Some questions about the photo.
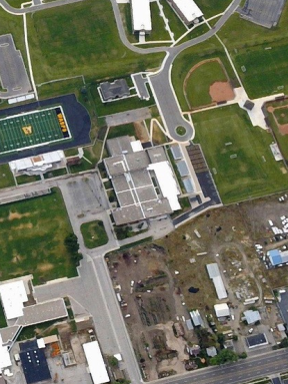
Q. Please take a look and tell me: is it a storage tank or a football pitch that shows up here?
football pitch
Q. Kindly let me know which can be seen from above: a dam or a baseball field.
baseball field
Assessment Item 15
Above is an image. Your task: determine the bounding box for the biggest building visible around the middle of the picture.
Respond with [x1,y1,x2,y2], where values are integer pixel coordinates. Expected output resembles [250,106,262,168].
[103,135,181,228]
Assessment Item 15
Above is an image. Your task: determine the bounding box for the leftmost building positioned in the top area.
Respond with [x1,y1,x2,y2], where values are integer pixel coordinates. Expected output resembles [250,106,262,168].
[99,78,130,101]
